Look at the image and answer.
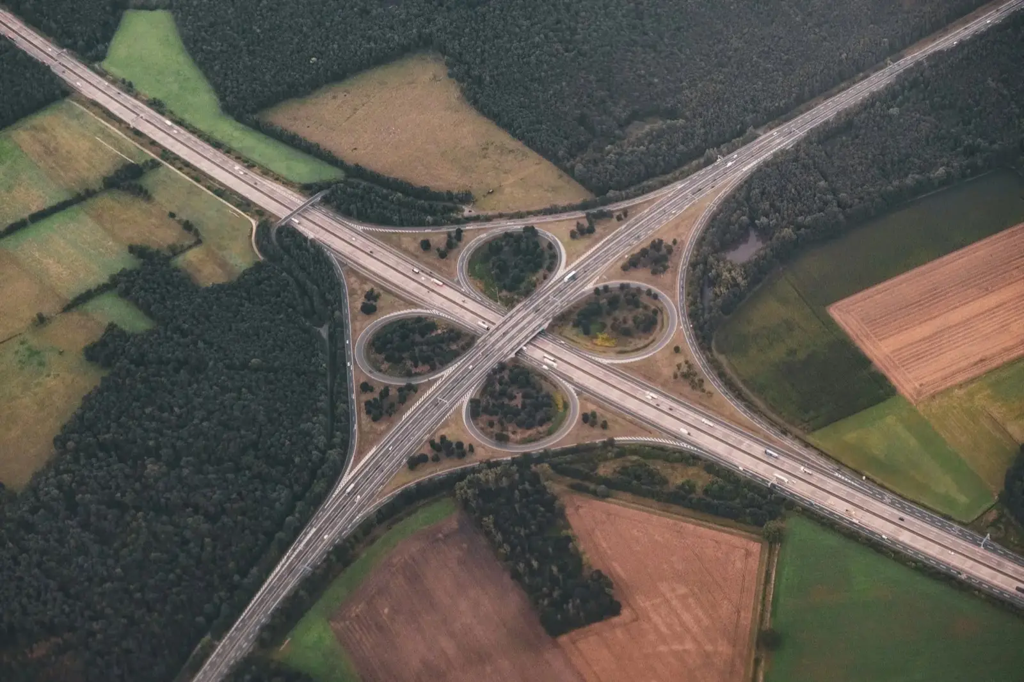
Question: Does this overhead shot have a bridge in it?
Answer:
Yes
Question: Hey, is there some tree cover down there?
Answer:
Yes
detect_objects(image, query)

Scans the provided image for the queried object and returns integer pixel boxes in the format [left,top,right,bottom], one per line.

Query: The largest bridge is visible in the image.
[473,300,556,361]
